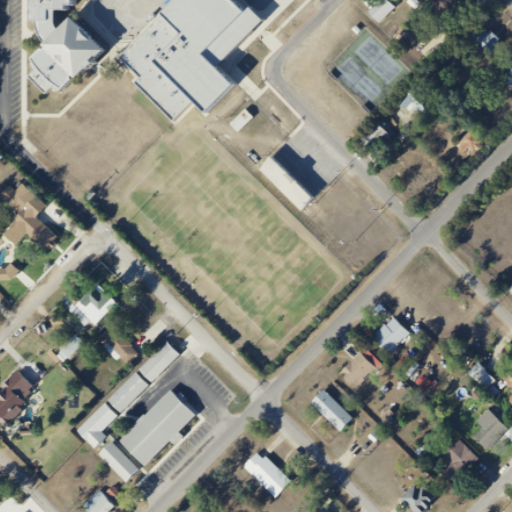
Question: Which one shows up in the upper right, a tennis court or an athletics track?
tennis court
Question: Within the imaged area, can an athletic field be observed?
Yes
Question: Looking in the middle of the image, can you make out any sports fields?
Yes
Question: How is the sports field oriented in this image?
diagonally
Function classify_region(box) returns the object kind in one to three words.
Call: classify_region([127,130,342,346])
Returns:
sports field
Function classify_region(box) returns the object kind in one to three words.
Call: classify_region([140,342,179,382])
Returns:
shed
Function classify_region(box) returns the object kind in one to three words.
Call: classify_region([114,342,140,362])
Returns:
house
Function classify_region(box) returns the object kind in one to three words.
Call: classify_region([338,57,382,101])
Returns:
tennis court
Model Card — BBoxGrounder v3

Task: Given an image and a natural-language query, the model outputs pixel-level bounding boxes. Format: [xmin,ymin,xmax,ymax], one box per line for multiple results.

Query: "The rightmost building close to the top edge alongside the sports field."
[116,0,261,120]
